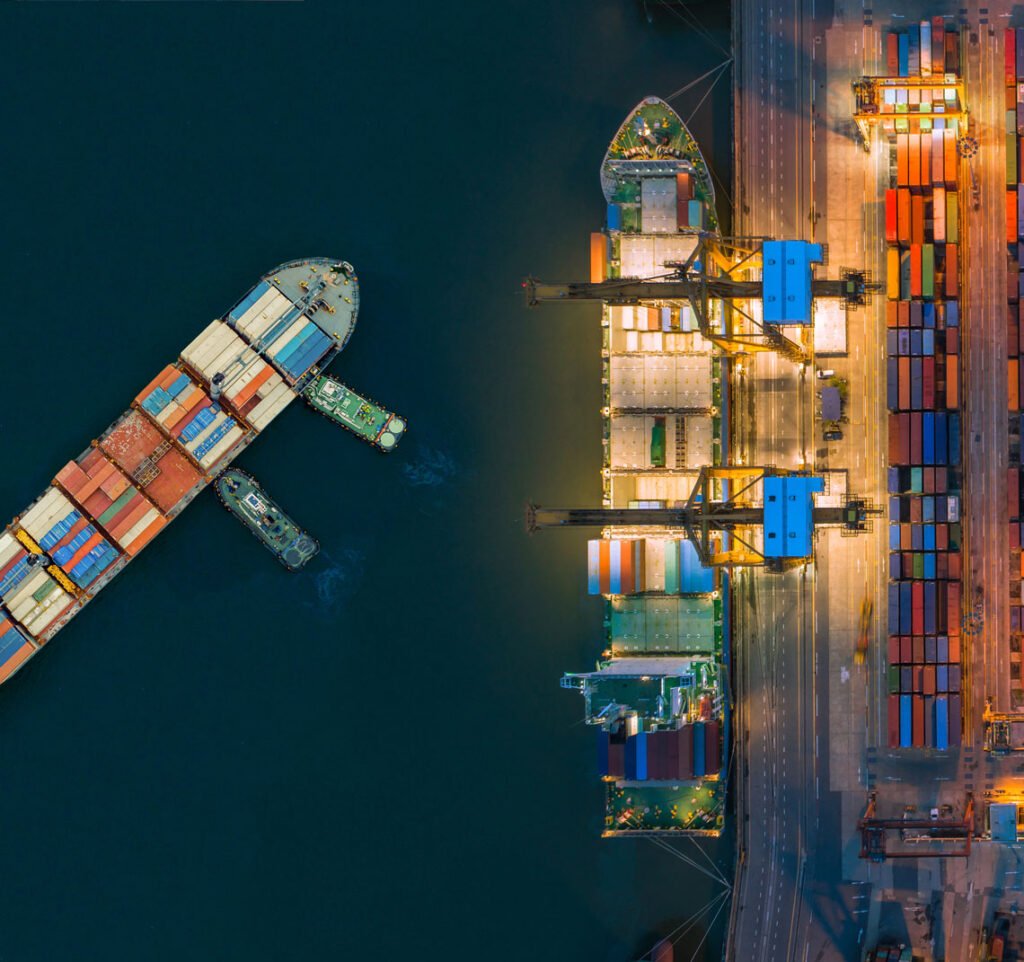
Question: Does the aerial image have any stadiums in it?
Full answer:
No, the scene contains no stadium.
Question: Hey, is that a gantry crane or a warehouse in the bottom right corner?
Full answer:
It is a gantry crane that can be seen in the bottom right corner.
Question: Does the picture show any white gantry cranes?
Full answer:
No, there isn't any white gantry crane down there.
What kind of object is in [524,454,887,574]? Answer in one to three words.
container crane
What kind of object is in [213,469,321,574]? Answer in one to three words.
boat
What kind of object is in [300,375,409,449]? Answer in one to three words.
boat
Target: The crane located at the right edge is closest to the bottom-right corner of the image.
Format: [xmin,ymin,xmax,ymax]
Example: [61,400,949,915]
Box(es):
[859,790,974,866]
